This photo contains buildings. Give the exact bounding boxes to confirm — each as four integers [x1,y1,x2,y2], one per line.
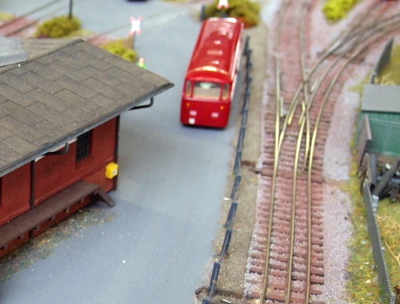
[0,24,174,259]
[353,78,400,150]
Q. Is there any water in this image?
No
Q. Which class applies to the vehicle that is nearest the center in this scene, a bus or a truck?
bus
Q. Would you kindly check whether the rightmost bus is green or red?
red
